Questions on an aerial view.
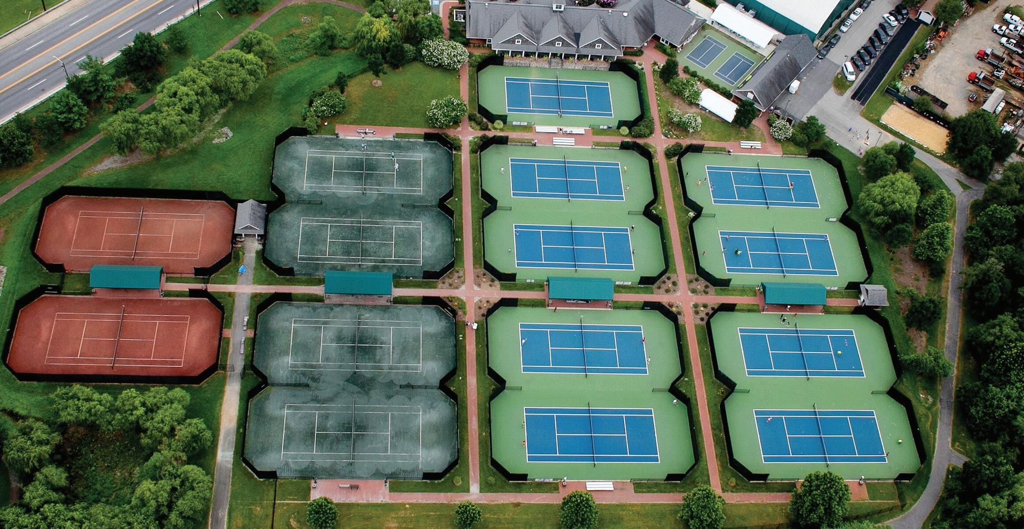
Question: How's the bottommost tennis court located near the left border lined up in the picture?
from left to right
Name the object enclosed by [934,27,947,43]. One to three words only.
vehicle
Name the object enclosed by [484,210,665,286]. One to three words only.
tennis court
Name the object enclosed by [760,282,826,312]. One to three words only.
building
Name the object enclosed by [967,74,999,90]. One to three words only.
vehicle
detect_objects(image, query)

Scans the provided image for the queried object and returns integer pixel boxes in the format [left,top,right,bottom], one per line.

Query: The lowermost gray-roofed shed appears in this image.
[856,284,889,312]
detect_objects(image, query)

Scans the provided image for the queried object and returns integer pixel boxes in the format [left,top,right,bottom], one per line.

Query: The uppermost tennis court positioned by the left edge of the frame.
[35,196,237,274]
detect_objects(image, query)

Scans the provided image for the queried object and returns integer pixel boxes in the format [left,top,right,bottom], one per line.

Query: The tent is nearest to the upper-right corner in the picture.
[709,5,778,55]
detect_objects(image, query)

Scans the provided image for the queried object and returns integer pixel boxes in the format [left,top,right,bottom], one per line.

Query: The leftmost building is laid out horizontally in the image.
[90,264,164,296]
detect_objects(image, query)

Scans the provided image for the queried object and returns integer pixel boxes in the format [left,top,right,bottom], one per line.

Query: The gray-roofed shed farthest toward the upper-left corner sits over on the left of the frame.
[234,198,268,242]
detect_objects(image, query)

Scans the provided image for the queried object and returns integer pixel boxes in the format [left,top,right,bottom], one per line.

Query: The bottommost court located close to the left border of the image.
[6,297,224,376]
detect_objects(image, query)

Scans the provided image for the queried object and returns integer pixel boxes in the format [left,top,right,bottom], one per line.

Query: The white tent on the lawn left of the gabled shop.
[697,92,741,129]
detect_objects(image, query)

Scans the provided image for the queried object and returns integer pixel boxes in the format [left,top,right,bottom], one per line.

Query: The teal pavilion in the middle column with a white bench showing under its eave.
[547,276,613,308]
